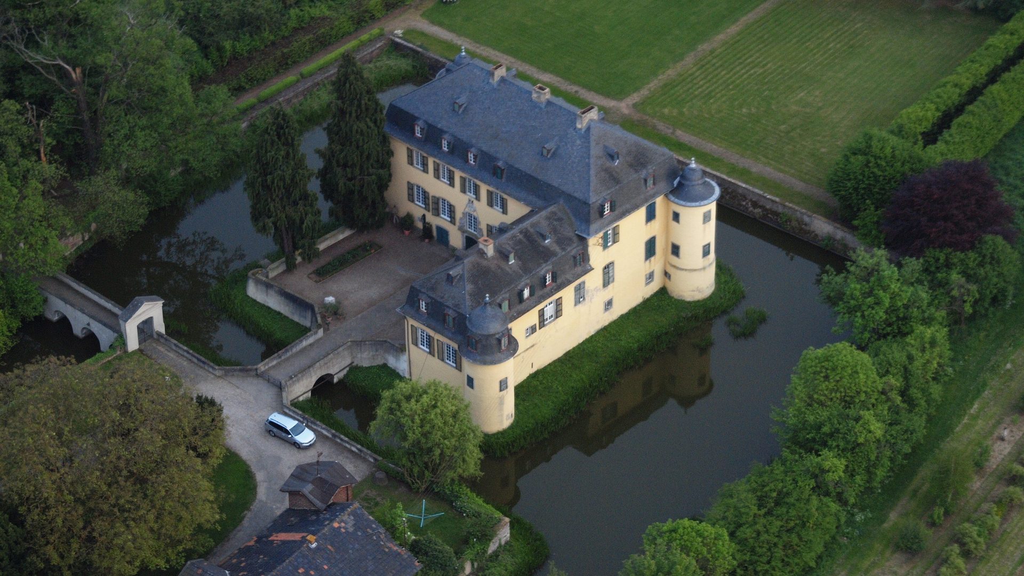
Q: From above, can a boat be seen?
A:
No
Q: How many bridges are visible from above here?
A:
two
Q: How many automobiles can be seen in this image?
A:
one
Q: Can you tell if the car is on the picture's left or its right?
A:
left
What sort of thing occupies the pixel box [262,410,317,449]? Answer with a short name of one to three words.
car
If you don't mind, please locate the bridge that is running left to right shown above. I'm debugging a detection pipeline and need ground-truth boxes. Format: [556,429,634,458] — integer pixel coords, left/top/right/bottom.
[255,330,410,402]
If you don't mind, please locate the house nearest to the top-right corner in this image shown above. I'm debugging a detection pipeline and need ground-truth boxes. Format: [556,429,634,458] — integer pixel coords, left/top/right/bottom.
[384,47,721,433]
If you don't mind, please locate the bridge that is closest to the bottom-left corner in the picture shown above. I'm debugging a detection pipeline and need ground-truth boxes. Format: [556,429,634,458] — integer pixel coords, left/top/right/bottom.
[27,258,145,363]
